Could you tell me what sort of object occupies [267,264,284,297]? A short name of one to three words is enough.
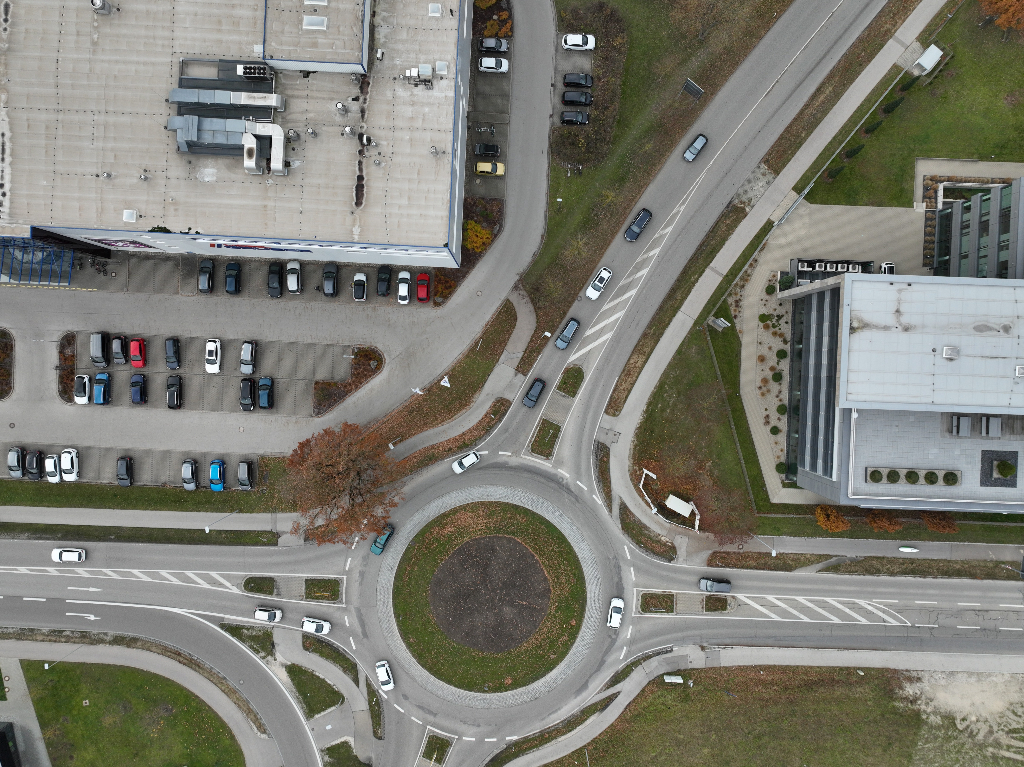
car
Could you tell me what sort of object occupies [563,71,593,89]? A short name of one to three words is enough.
car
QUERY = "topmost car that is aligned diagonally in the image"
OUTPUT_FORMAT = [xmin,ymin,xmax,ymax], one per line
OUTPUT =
[683,133,709,164]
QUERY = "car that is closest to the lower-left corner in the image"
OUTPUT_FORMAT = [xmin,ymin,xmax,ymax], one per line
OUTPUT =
[53,547,88,564]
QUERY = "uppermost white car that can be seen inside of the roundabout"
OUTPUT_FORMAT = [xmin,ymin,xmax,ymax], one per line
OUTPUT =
[452,450,480,473]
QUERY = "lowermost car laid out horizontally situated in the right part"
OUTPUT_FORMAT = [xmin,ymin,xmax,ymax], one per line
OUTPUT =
[698,577,731,593]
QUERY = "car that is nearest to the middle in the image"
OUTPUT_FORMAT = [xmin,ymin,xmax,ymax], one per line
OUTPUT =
[523,377,546,408]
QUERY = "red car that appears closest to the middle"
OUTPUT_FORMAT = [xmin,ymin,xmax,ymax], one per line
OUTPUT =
[415,273,431,303]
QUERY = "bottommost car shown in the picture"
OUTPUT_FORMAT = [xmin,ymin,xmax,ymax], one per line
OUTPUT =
[375,659,395,690]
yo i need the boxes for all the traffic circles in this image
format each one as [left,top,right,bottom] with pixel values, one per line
[342,449,637,744]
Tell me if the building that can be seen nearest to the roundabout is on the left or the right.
right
